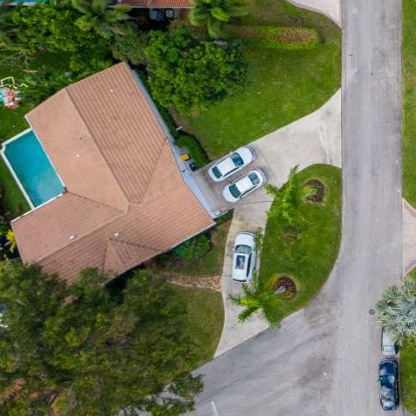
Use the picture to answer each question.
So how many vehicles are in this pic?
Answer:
5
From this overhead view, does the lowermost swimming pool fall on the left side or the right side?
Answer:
left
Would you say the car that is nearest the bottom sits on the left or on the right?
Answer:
right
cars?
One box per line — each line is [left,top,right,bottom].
[375,305,400,355]
[376,358,400,411]
[230,231,257,281]
[206,145,257,183]
[220,169,270,203]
